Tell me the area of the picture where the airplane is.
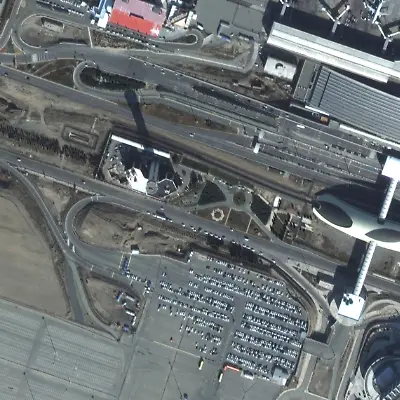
top right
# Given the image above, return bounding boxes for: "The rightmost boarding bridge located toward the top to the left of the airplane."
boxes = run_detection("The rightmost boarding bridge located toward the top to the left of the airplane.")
[322,4,350,33]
